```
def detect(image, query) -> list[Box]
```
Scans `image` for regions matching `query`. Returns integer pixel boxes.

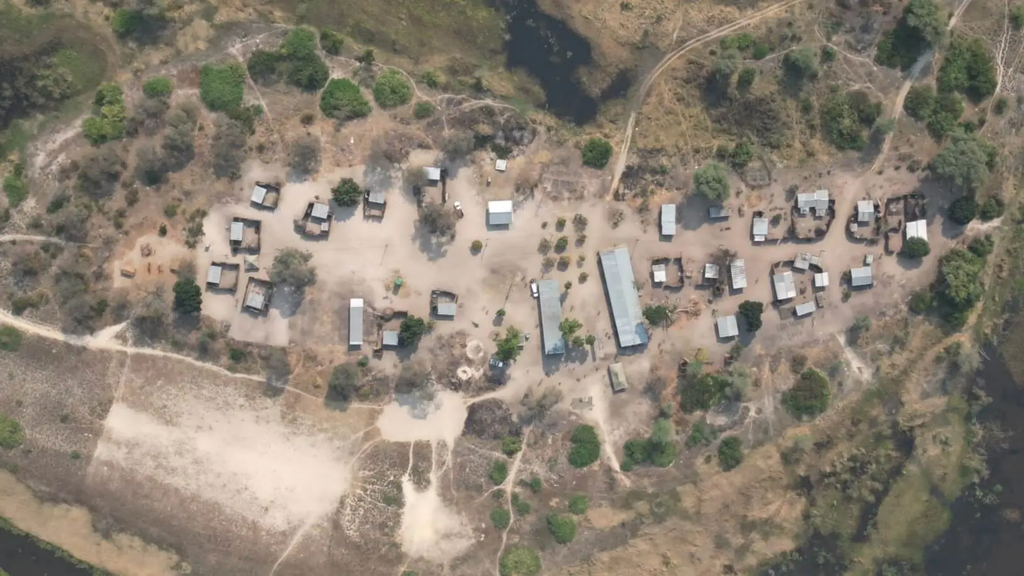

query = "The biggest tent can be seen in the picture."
[609,362,627,390]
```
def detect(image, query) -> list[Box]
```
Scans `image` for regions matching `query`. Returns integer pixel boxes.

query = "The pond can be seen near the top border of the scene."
[485,0,633,128]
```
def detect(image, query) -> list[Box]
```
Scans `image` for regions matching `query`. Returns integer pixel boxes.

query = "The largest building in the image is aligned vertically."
[599,246,647,348]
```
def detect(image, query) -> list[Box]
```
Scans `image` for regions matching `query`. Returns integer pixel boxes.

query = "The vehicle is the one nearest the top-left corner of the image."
[453,201,465,219]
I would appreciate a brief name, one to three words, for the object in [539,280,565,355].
building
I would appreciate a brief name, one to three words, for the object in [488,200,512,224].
house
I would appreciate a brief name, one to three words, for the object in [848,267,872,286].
house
